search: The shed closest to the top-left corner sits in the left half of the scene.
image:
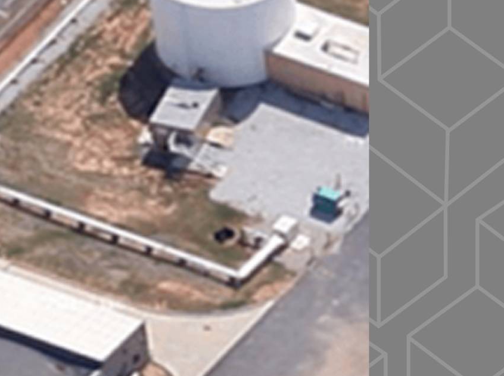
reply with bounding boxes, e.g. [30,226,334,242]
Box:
[150,85,219,157]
